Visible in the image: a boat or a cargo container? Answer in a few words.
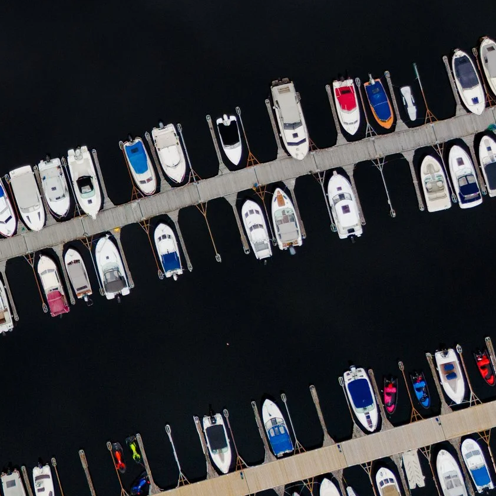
boat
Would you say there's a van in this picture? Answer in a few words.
No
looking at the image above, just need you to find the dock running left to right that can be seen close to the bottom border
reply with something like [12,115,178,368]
[146,399,496,496]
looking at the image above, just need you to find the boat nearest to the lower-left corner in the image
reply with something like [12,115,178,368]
[2,463,27,496]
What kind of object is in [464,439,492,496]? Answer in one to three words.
boat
